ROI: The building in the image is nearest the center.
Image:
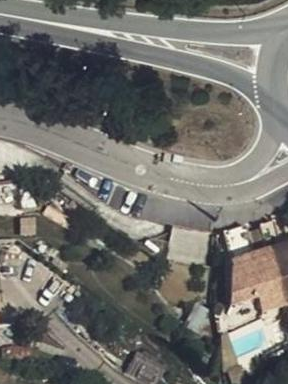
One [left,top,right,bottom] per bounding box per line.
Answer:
[167,227,210,265]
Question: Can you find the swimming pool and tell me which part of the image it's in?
bottom right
